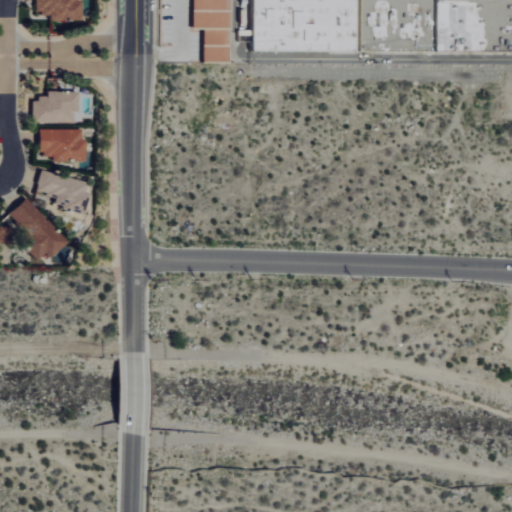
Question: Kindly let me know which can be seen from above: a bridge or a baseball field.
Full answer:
Looking from above, you can make out a bridge.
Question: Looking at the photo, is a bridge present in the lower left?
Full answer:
Yes, the scene does show a bridge in the lower left.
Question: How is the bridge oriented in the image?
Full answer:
The bridge runs up and down in the image.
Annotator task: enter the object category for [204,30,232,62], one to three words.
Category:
building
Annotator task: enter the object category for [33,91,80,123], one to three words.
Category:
house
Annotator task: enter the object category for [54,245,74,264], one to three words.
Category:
swimming pool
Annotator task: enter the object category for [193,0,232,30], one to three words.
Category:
building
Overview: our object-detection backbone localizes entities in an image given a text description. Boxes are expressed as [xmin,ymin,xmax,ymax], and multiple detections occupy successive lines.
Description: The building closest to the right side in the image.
[434,0,512,52]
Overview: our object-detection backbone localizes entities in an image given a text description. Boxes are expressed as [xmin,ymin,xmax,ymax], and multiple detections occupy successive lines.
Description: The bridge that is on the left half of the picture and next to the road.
[120,352,151,434]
